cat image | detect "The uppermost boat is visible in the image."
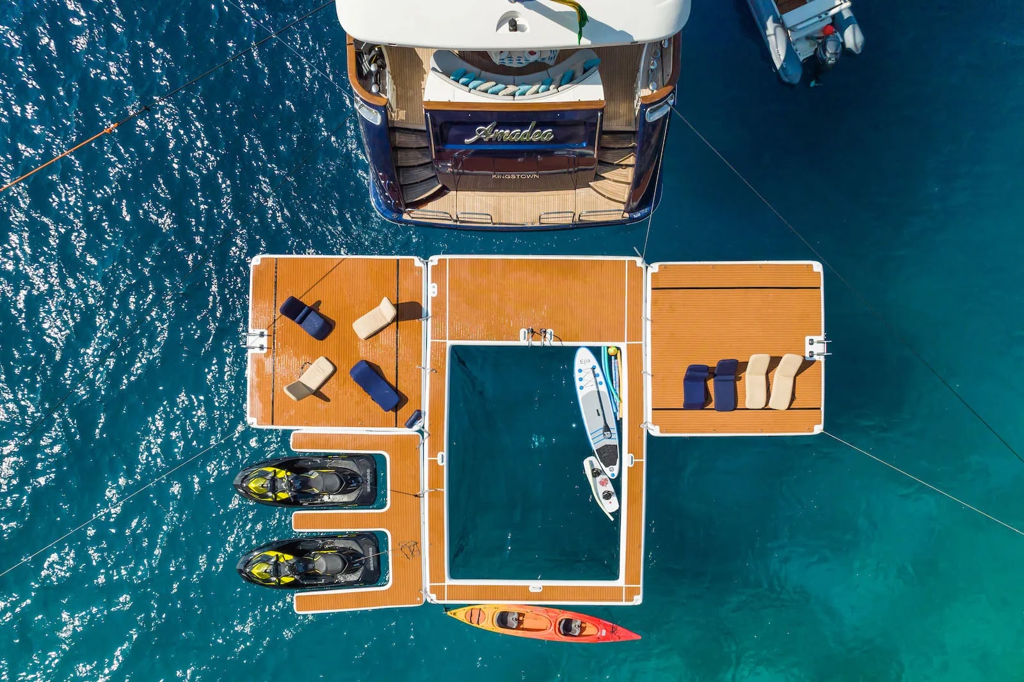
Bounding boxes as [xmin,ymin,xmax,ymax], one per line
[749,0,868,88]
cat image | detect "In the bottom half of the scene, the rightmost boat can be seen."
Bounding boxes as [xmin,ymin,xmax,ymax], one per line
[447,602,642,643]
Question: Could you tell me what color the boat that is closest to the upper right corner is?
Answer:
blue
